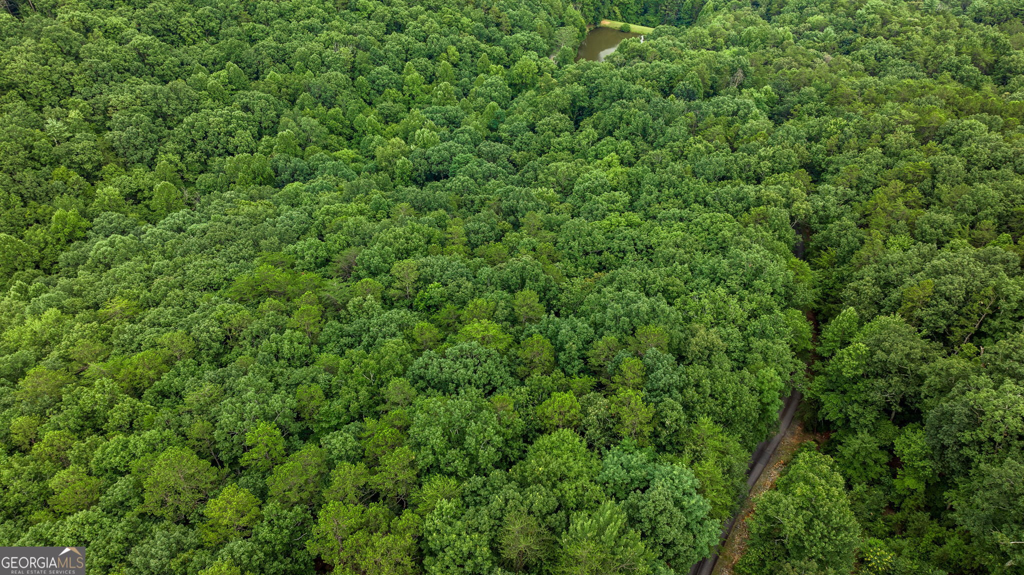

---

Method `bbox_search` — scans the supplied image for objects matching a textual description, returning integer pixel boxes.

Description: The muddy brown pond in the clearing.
[574,27,656,73]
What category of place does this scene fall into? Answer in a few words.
forest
